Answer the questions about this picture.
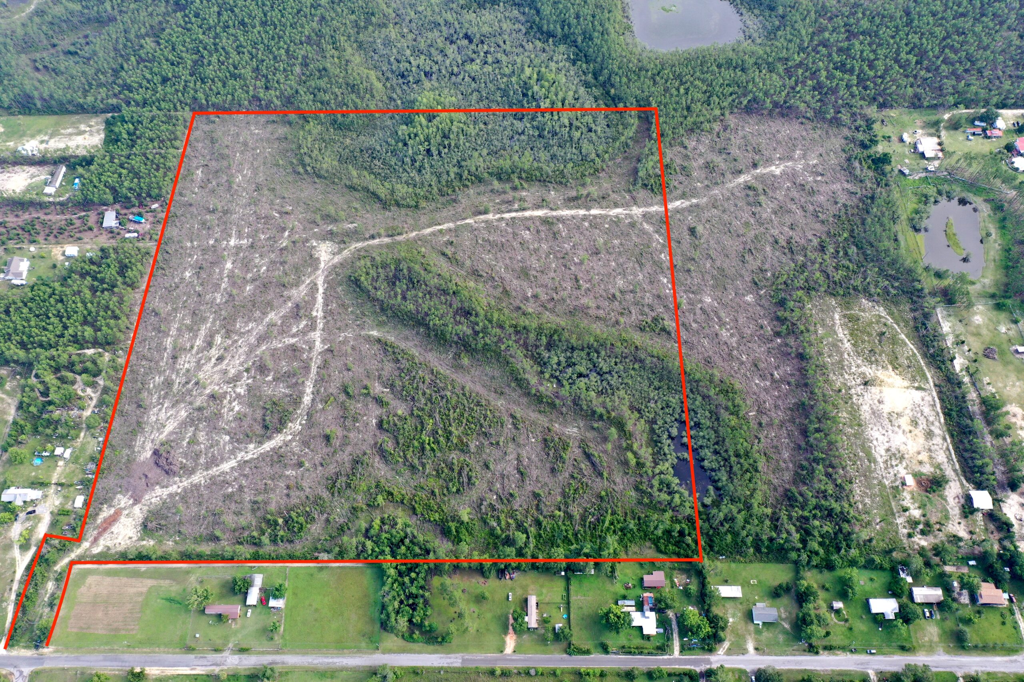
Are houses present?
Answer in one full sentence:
Yes, this view includes a house.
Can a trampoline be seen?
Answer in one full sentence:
No, the scene contains no trampoline.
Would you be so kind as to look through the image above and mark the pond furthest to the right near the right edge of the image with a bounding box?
[924,196,985,278]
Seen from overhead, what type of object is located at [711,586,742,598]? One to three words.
shed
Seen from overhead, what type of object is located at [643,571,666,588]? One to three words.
building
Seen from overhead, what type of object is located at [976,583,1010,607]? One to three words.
house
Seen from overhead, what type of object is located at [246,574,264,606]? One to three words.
barn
